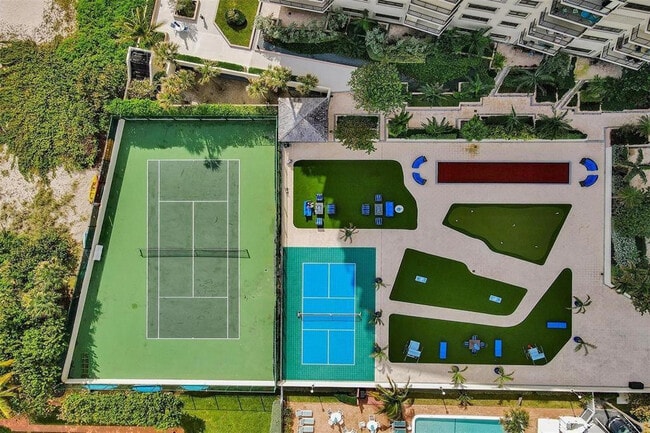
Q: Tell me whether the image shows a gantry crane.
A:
No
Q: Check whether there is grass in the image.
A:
Yes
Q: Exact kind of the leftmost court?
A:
tennis court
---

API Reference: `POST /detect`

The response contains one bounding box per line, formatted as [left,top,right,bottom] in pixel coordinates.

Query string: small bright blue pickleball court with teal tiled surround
[284,247,375,381]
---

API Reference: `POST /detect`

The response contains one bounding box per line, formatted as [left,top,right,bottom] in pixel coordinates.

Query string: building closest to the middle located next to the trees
[278,98,329,142]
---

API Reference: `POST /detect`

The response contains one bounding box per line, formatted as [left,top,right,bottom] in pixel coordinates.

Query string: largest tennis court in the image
[72,120,276,378]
